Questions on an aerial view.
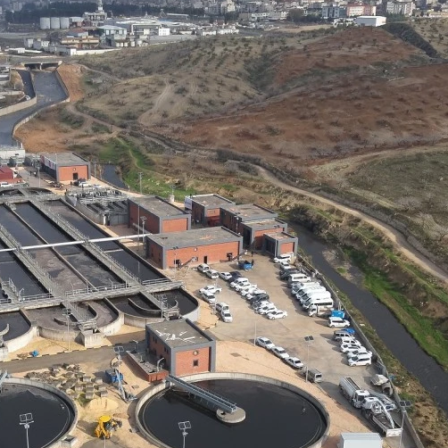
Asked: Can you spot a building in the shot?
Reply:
Yes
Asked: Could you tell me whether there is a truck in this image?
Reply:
Yes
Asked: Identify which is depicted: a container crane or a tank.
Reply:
tank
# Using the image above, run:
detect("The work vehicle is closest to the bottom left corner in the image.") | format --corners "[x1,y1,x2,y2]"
[94,415,127,441]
